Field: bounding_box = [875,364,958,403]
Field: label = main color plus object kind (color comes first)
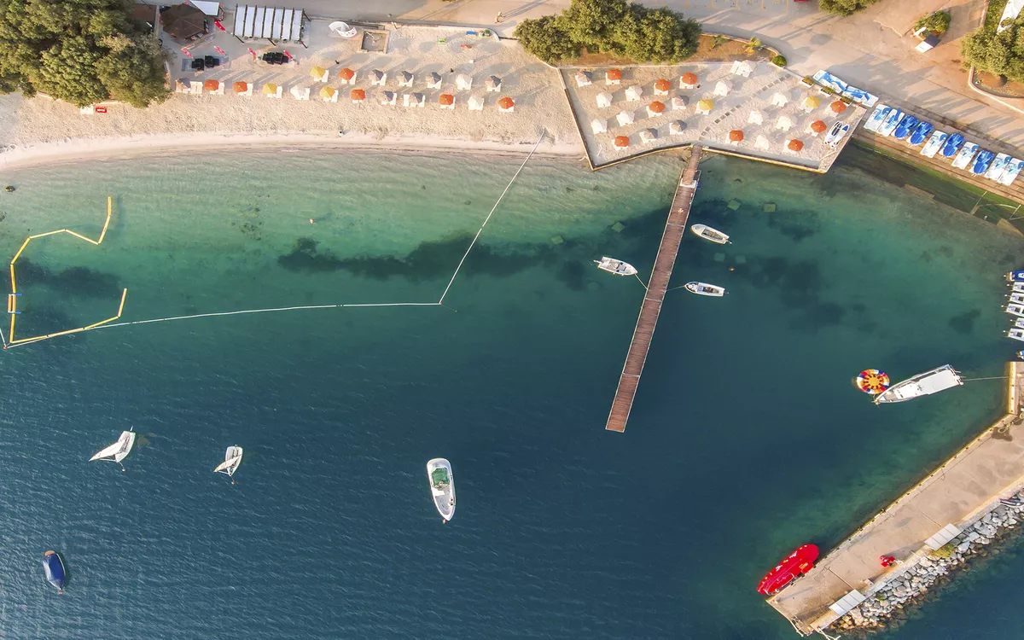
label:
white boat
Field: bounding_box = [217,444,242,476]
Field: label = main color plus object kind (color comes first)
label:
white boat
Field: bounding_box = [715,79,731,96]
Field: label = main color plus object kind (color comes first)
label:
white umbrella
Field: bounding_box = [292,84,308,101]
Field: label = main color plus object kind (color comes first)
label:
white umbrella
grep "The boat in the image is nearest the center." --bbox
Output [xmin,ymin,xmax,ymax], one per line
[591,257,638,277]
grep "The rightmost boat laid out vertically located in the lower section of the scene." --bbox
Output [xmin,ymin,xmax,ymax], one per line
[427,458,453,520]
